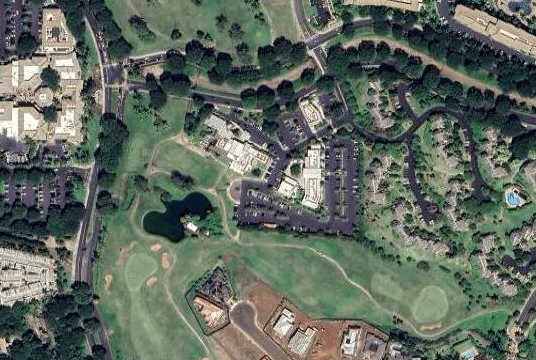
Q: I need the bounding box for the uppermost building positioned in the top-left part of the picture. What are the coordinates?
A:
[42,9,78,54]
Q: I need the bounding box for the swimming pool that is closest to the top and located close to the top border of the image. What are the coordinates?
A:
[507,0,531,15]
